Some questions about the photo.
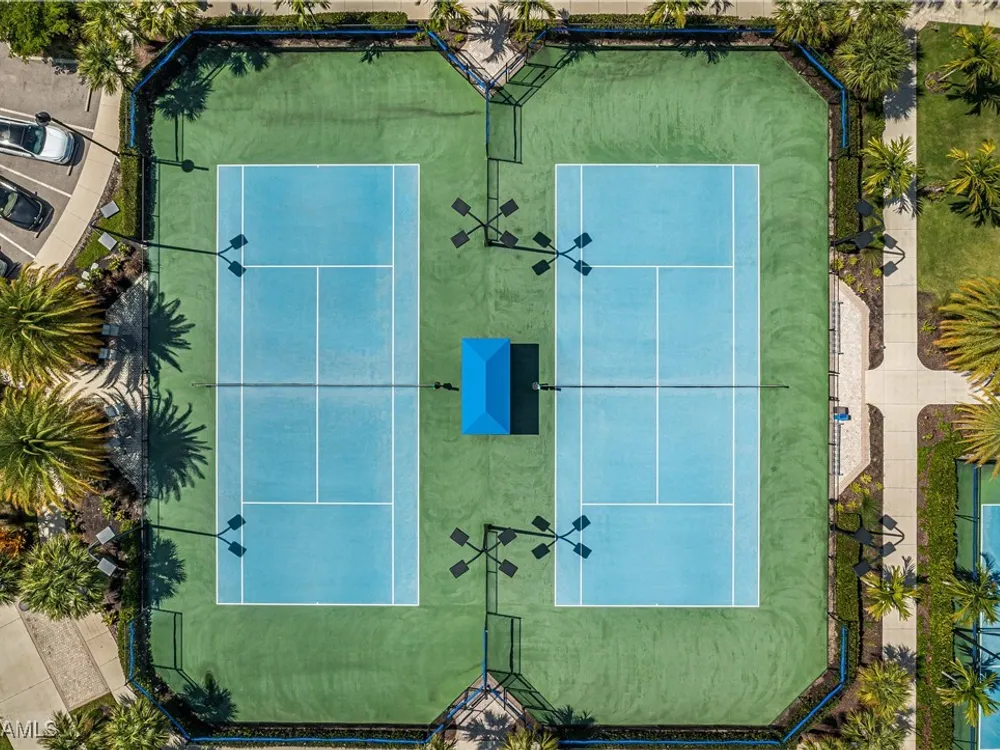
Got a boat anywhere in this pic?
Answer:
No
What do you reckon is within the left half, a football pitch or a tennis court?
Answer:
tennis court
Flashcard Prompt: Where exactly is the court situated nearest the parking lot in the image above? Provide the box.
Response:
[148,47,487,724]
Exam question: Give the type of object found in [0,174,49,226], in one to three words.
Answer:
car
